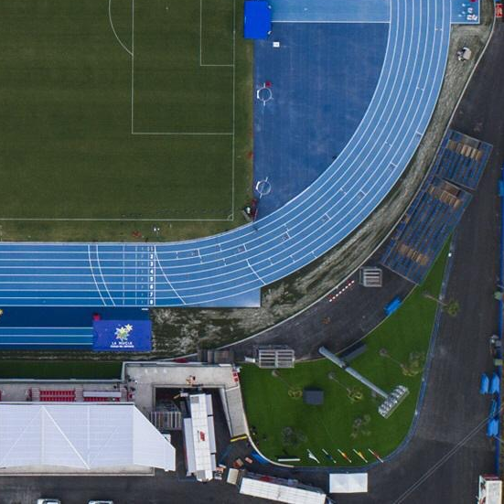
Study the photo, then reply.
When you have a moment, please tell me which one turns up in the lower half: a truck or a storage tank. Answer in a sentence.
Visible in the lower half is a truck.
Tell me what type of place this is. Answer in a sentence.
The area seen from above is a sports ground.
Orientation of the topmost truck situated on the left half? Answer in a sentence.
The topmost truck situated on the left half is laid out up and down.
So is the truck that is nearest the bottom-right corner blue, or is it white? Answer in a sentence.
In this view, the truck that is nearest the bottom-right corner is white.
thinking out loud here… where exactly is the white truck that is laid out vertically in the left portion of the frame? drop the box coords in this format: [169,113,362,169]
[179,389,215,479]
